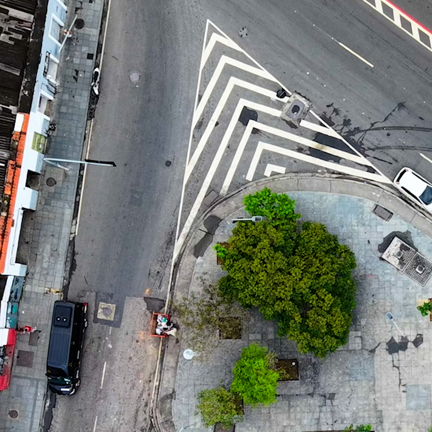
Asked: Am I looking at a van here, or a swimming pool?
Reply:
van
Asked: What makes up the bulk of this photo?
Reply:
paved ground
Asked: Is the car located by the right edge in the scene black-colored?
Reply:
No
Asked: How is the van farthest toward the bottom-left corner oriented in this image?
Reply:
from top to bottom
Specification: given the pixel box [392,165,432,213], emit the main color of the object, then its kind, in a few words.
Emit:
white car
